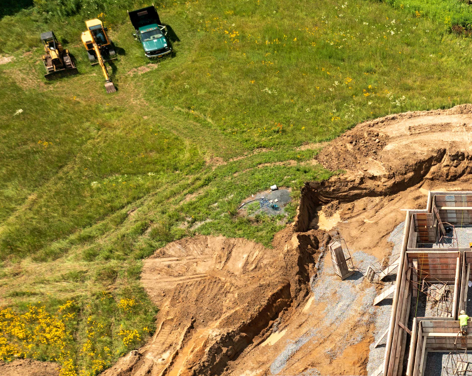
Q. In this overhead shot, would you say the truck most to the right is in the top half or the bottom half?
top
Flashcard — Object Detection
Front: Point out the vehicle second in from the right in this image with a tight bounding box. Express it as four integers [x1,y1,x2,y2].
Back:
[80,18,119,89]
